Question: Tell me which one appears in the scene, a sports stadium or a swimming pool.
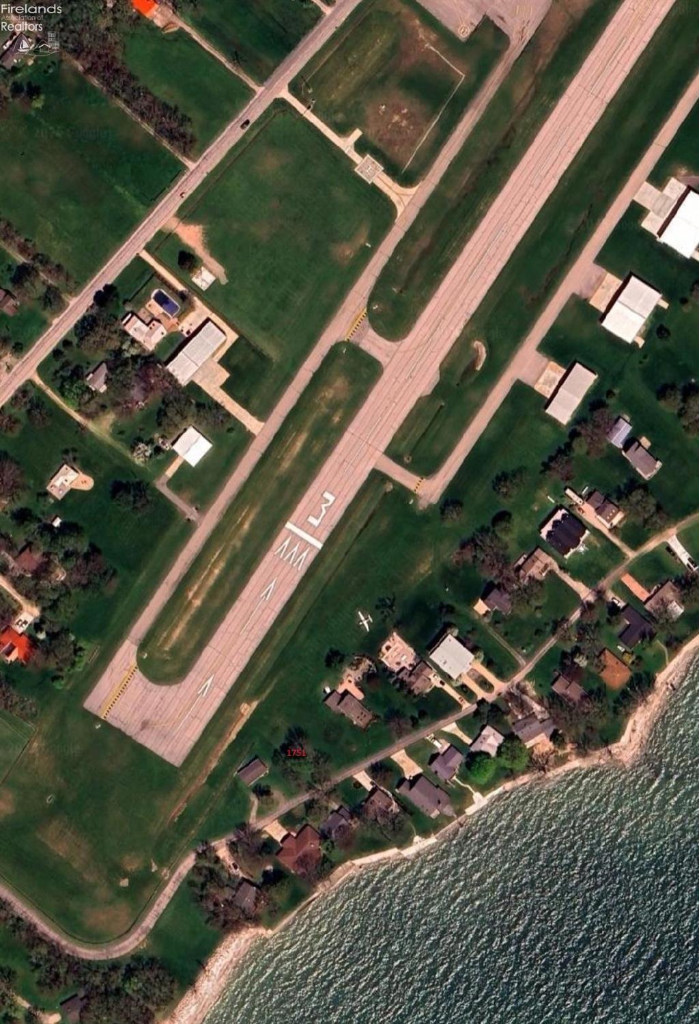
swimming pool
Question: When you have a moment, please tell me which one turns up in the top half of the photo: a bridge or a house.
house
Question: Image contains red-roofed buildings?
Yes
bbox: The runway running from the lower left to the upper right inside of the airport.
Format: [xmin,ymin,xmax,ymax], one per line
[149,0,676,767]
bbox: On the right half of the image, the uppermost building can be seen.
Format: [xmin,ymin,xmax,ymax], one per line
[659,190,699,258]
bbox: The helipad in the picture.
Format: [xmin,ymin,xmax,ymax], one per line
[354,154,384,184]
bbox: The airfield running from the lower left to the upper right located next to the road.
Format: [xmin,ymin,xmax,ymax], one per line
[83,0,699,767]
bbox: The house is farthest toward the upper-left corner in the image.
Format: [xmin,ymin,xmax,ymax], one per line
[0,34,31,72]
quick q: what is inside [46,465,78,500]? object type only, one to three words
house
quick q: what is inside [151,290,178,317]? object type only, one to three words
swimming pool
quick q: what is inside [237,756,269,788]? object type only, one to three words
shed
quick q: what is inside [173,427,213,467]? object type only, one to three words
hangar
